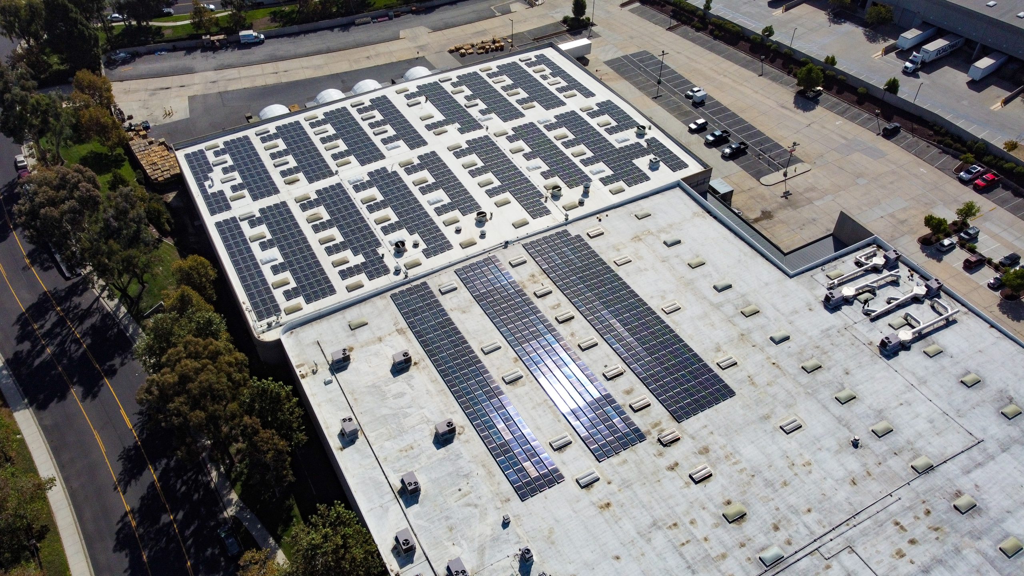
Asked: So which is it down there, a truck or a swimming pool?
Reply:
truck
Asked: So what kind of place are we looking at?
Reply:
industrial area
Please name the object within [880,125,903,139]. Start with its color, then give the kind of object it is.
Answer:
black car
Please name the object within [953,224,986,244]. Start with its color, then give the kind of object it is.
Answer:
gray vehicle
